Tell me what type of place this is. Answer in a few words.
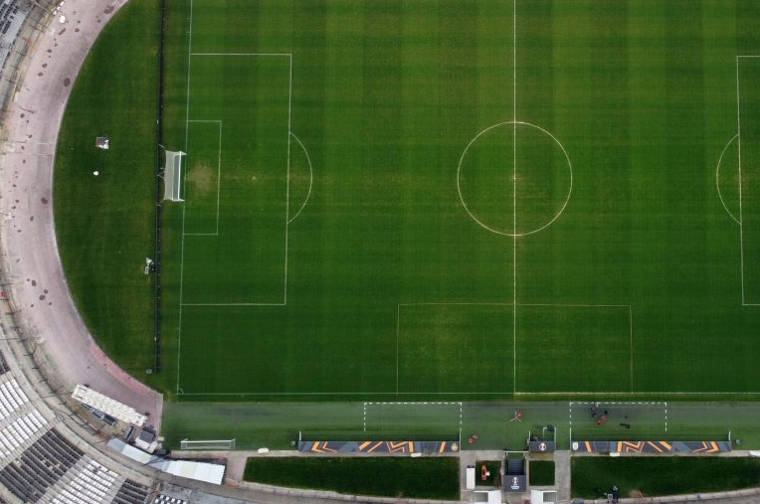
sports ground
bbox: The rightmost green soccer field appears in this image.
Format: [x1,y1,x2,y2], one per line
[166,0,760,402]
